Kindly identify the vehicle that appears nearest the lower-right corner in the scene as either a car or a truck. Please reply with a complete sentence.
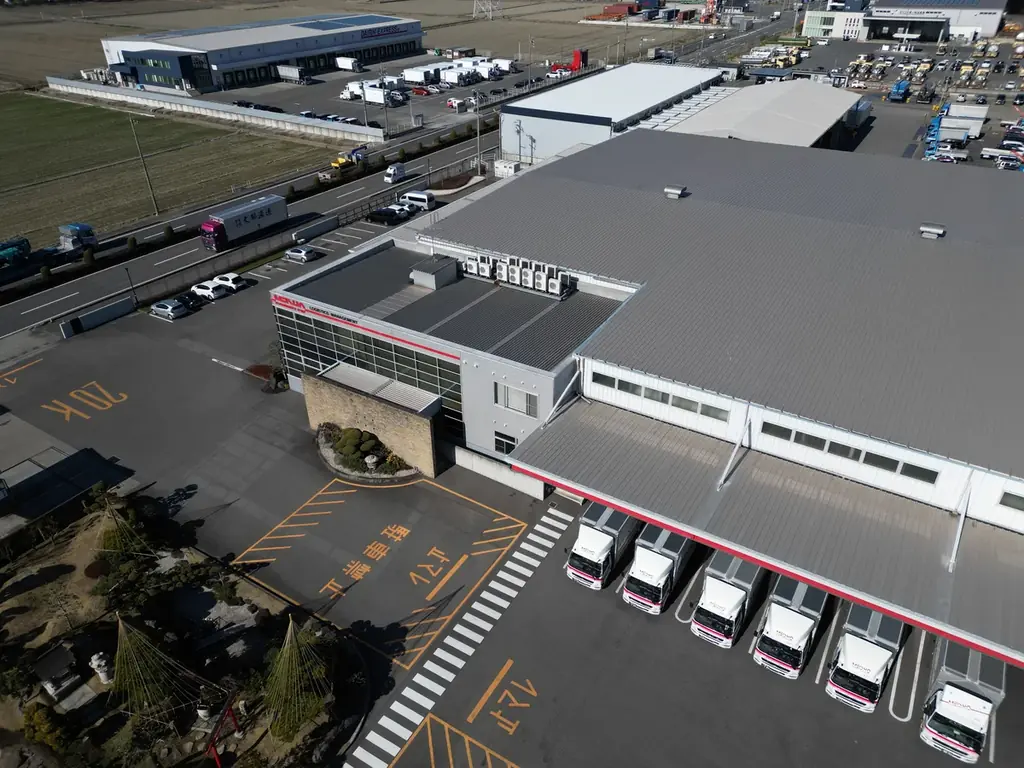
From above, the vehicle that appears nearest the lower-right corner can be identified as a truck.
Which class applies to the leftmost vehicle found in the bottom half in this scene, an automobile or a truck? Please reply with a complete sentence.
In the photo, the leftmost vehicle found in the bottom half shows up as a truck.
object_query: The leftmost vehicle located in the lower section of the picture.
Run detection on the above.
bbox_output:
[563,503,642,590]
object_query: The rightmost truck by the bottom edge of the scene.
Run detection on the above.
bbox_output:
[922,633,1004,764]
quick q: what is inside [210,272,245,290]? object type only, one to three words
car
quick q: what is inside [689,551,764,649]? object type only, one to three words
truck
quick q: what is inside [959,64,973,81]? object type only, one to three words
vehicle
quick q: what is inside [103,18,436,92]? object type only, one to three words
building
